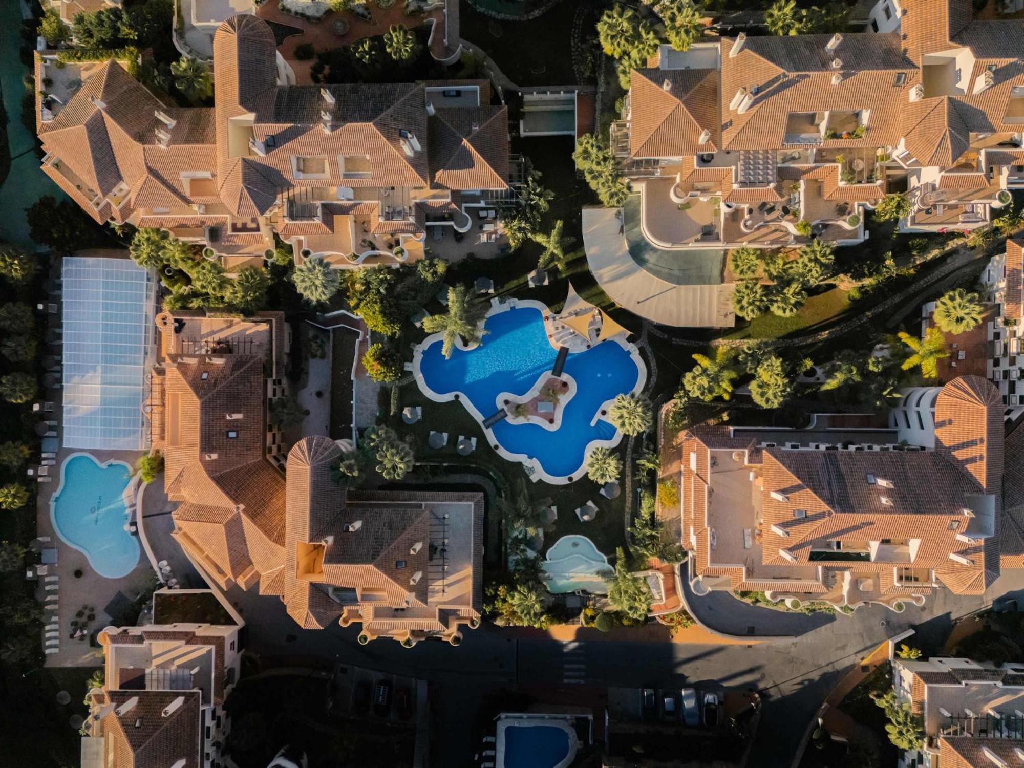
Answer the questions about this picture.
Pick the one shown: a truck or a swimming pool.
swimming pool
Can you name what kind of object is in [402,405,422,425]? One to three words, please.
umbrella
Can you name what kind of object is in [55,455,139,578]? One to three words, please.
swimming pool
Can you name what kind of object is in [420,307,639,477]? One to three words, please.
swimming pool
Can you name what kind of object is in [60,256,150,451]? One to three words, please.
building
